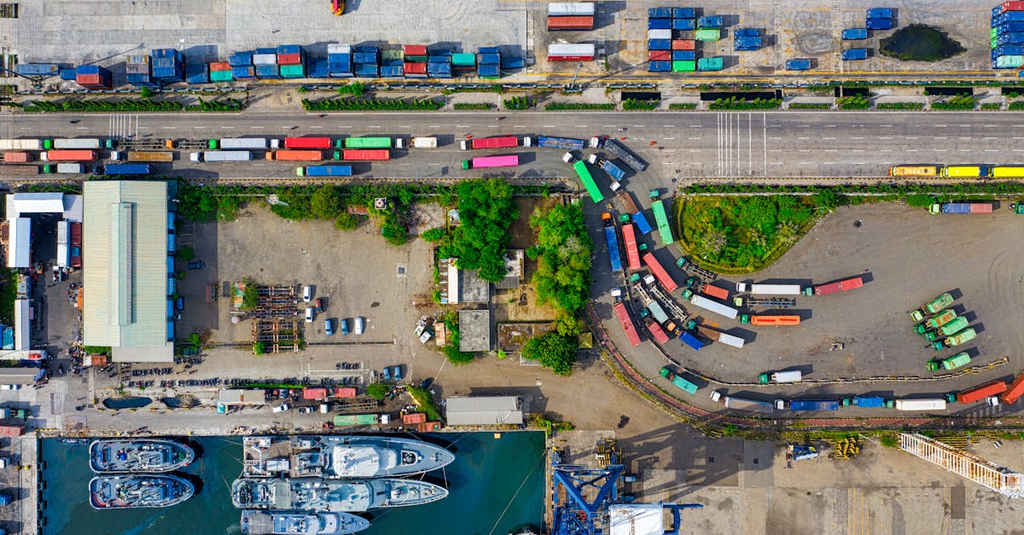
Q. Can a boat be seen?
Yes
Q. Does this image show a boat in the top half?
No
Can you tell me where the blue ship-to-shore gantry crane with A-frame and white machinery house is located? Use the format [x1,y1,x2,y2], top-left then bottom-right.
[551,449,704,535]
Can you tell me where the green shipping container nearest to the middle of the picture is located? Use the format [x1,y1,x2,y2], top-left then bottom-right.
[573,159,604,205]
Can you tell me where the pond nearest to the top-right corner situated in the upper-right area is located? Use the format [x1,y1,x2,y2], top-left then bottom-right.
[879,23,967,62]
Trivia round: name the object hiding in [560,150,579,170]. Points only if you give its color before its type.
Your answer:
white vehicle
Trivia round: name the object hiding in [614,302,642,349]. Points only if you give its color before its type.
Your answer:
red shipping container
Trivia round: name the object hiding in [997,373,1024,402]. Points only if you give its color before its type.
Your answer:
red shipping container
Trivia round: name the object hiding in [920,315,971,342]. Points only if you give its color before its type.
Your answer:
green truck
